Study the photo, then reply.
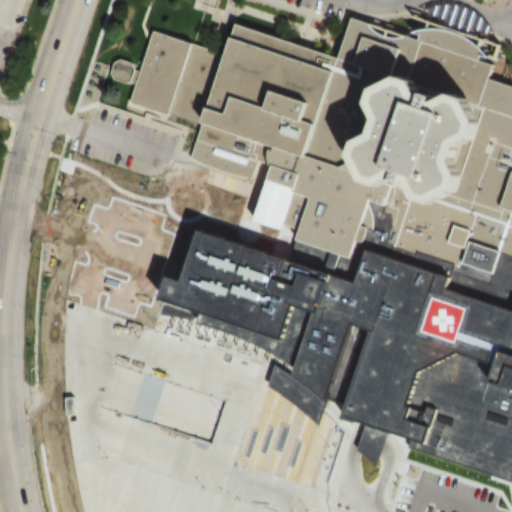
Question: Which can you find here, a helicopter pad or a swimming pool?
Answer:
helicopter pad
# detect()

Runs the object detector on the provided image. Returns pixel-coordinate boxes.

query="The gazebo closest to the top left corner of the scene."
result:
[115,59,140,84]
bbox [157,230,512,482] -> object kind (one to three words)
building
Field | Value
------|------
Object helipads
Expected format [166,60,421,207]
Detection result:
[417,293,494,350]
